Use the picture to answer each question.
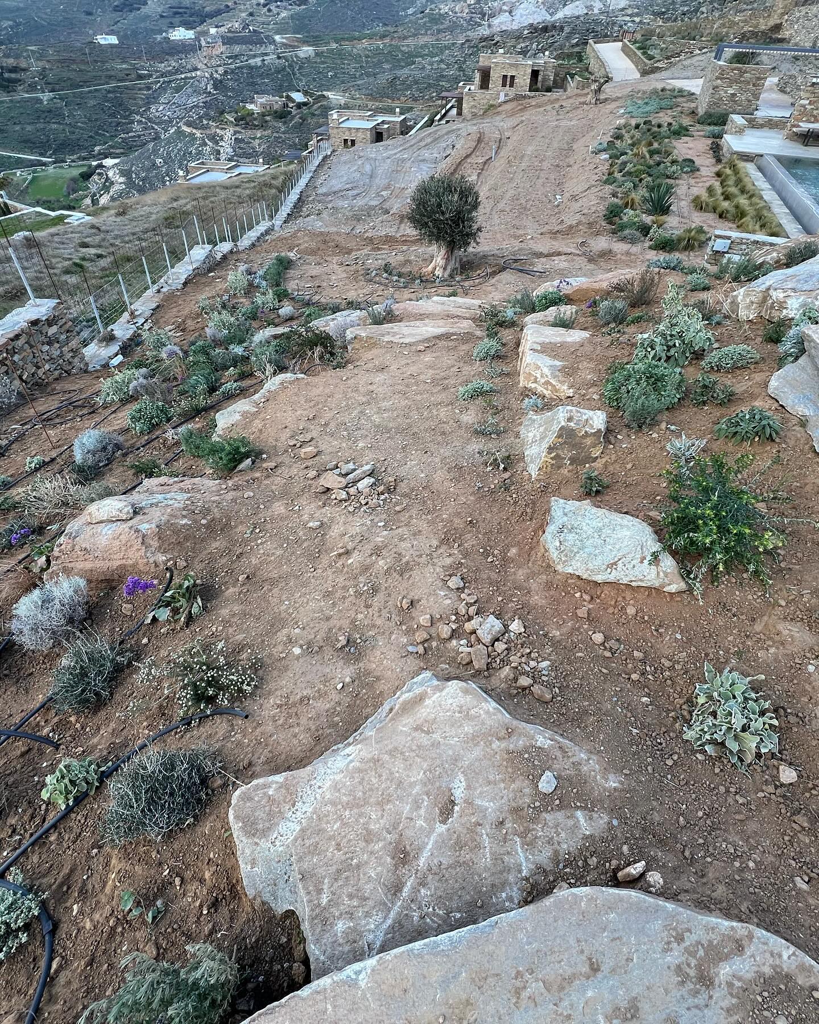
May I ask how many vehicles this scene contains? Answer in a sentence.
I count no vehicles.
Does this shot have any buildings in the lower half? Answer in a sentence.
No, there is no building in the lower half.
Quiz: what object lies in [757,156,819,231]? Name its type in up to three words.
swimming pool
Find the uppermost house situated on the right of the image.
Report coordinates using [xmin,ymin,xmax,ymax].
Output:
[473,47,557,94]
